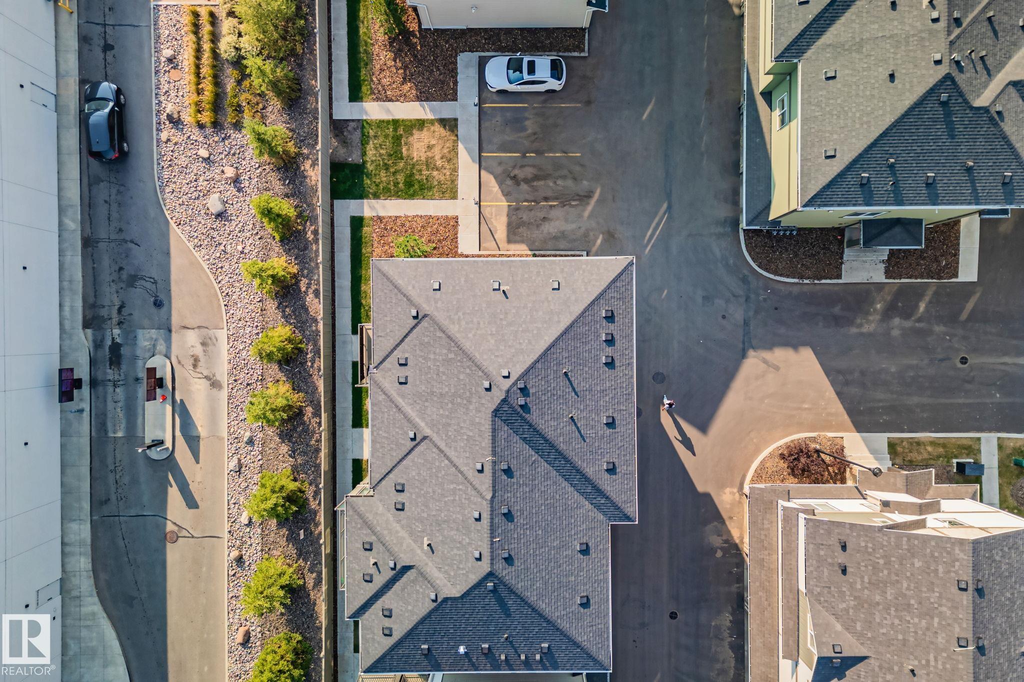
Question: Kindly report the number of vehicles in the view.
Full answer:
There are 2 vehicles in the image.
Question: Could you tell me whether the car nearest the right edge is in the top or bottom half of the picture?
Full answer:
It is in the top half that the car nearest the right edge appears.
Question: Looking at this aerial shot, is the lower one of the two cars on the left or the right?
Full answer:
The lower one of the two cars is on the left side of the image.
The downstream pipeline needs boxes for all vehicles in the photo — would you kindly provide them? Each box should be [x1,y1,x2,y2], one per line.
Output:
[81,83,131,163]
[485,49,565,92]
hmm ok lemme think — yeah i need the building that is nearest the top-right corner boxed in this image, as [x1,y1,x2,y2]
[734,0,1024,248]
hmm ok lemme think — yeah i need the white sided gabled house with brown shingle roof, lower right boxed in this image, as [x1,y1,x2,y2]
[742,462,1024,682]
